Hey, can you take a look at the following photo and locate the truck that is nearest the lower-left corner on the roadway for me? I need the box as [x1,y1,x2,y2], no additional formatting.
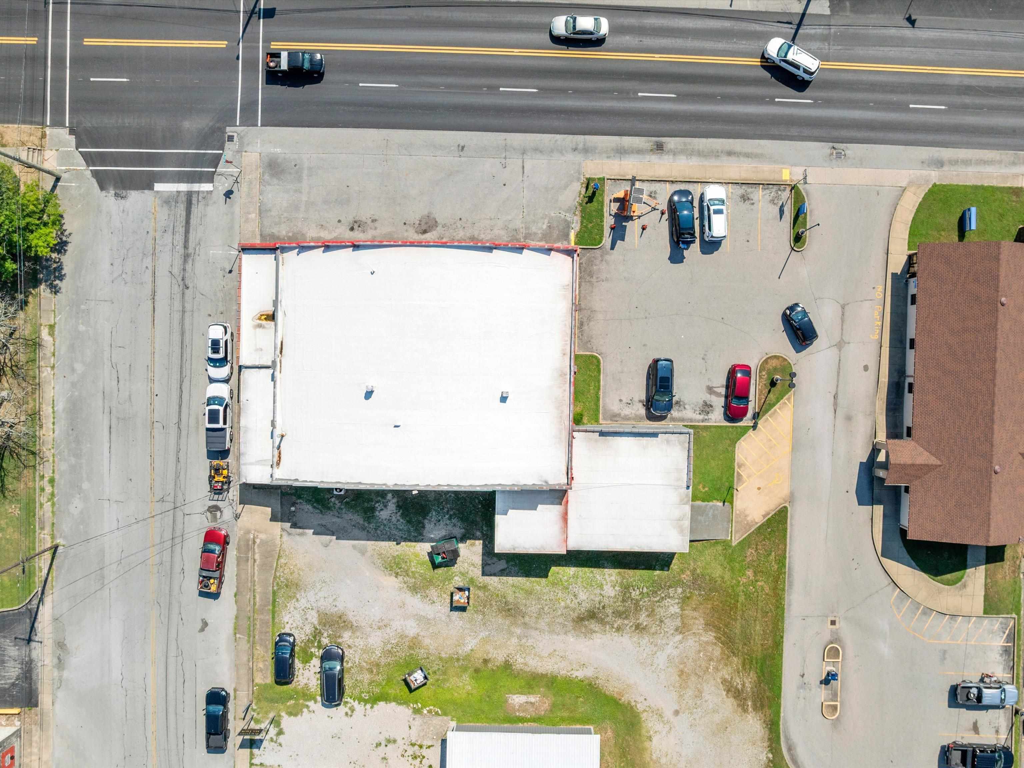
[201,686,231,753]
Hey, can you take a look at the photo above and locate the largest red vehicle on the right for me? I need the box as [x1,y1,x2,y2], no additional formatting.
[725,365,753,420]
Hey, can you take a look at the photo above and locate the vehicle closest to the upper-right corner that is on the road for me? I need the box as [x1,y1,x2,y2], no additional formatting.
[763,38,823,83]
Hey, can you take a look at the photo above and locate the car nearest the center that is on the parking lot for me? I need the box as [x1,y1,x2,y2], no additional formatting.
[650,359,677,416]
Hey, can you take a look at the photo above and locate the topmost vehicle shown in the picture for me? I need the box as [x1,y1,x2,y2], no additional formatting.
[550,12,610,41]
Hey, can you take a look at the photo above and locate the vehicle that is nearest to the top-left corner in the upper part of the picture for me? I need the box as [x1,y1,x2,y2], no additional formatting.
[264,46,326,76]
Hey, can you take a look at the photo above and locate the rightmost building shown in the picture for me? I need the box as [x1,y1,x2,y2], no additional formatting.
[874,240,1024,546]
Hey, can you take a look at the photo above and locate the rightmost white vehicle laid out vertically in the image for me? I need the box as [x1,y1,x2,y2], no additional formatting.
[703,185,731,242]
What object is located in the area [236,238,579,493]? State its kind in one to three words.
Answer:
building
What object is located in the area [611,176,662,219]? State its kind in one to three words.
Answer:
trailer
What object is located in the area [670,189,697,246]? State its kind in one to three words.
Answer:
car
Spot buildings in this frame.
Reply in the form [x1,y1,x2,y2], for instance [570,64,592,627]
[446,725,600,768]
[874,240,1024,546]
[0,727,23,768]
[236,238,579,493]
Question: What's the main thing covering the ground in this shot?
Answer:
paved ground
